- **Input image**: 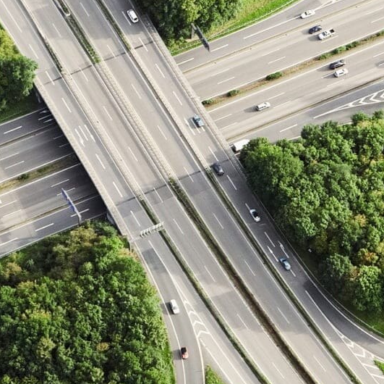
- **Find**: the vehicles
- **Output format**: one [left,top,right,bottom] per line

[279,258,290,270]
[235,131,267,151]
[127,10,136,22]
[300,10,315,18]
[334,69,346,76]
[180,346,188,360]
[250,209,260,221]
[255,102,270,111]
[309,25,323,34]
[330,60,344,68]
[319,29,334,39]
[169,299,179,315]
[212,162,223,175]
